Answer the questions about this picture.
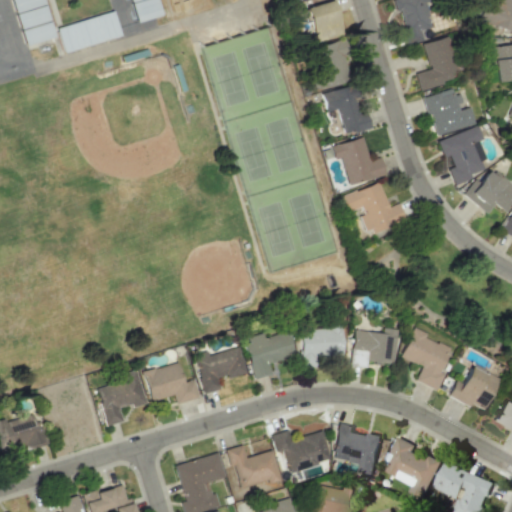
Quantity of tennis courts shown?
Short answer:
6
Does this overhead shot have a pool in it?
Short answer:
Yes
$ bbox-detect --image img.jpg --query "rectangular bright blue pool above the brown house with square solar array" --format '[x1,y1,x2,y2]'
[462,347,502,376]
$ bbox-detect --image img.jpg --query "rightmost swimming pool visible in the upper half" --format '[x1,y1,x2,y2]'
[478,134,504,167]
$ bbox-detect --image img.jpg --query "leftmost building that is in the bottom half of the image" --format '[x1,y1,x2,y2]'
[0,414,48,452]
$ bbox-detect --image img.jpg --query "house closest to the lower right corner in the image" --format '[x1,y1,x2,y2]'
[434,466,494,512]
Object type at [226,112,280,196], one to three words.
tennis court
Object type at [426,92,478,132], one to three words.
house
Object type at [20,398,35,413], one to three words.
swimming pool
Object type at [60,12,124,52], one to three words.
building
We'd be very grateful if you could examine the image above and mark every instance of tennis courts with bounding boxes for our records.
[281,177,336,260]
[258,102,314,186]
[248,186,302,271]
[203,38,258,121]
[236,28,292,112]
[226,112,280,196]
